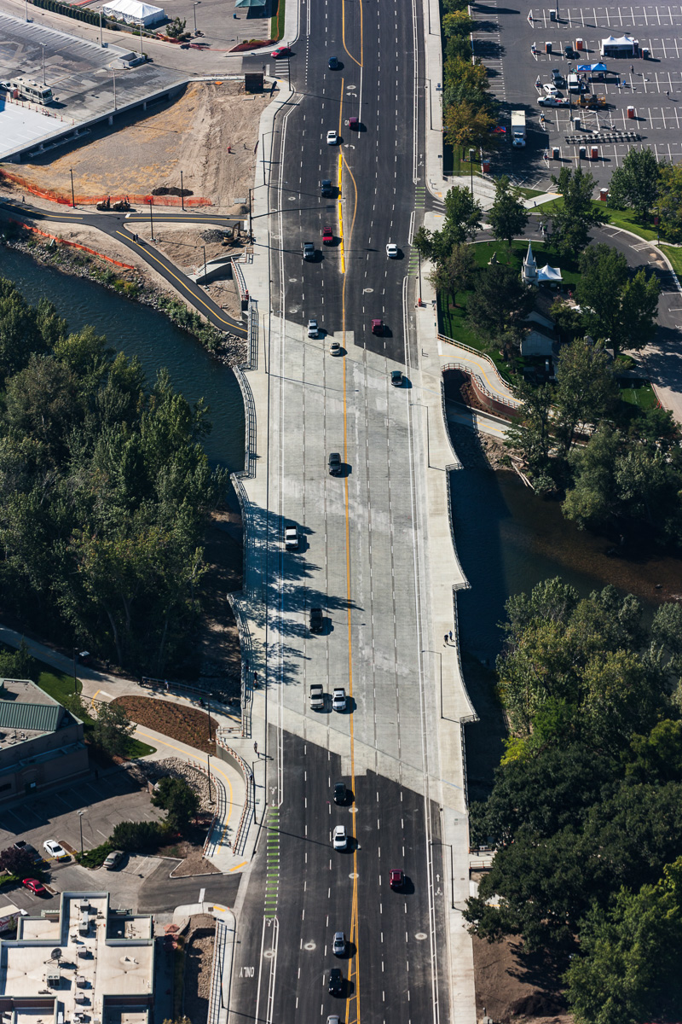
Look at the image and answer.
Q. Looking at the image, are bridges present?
Yes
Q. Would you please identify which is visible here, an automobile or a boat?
automobile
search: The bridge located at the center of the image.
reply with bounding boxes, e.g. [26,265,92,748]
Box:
[226,289,482,810]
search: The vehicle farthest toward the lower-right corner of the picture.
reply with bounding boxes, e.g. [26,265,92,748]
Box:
[389,869,405,887]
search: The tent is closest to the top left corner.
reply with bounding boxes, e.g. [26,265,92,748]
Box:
[99,0,168,28]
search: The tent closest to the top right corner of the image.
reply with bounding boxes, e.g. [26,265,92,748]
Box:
[601,37,640,62]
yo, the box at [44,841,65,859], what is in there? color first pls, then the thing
white car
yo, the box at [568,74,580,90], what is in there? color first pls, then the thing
white vehicle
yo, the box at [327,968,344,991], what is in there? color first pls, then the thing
black car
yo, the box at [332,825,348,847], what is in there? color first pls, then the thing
white car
